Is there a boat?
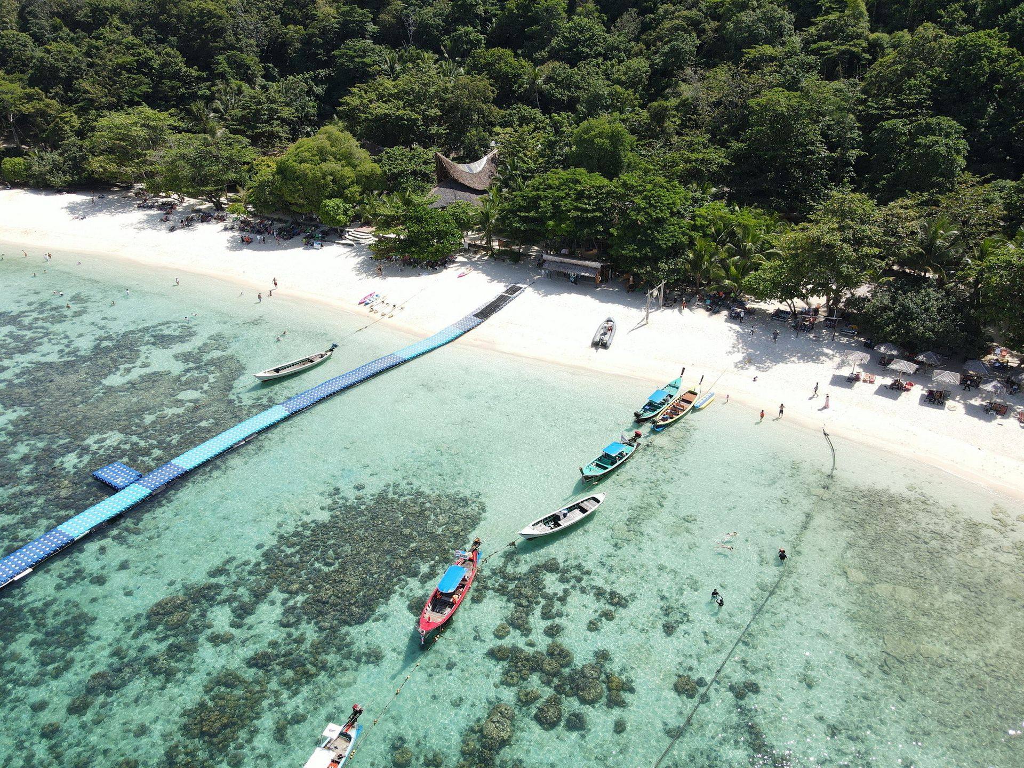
Yes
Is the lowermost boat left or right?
left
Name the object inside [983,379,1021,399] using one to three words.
umbrella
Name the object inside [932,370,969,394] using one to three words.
umbrella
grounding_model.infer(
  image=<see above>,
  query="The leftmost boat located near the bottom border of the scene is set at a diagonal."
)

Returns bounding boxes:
[301,684,378,768]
